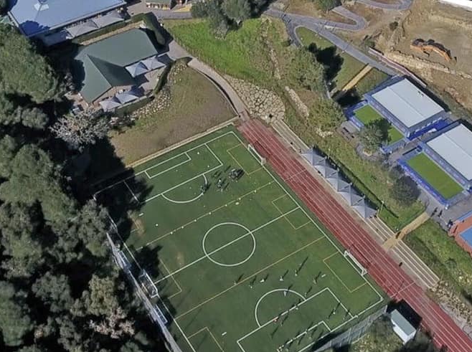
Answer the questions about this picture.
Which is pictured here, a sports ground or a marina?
sports ground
